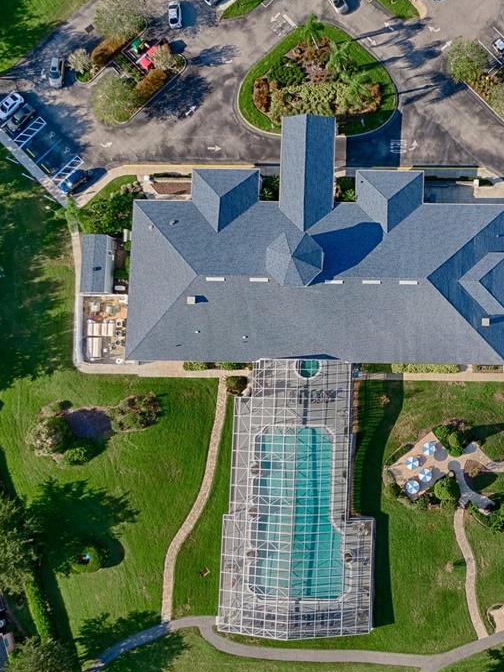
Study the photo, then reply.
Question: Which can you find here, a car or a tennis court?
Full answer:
Looking from above, you can make out a car.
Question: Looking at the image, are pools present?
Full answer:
Yes, the photo shows a pool.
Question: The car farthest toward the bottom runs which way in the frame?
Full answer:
The car farthest toward the bottom runs diagonally in the image.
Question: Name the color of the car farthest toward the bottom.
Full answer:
The color of the car farthest toward the bottom is blue.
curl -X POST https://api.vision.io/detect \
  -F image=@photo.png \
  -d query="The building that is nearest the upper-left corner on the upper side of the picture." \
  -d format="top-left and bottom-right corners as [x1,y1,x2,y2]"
[81,234,113,293]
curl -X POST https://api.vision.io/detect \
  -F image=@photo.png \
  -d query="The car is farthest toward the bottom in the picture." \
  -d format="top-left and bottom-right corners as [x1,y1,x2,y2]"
[59,168,90,194]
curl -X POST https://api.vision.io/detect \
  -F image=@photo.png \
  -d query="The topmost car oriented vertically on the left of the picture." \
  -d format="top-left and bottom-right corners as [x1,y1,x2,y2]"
[167,0,182,30]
